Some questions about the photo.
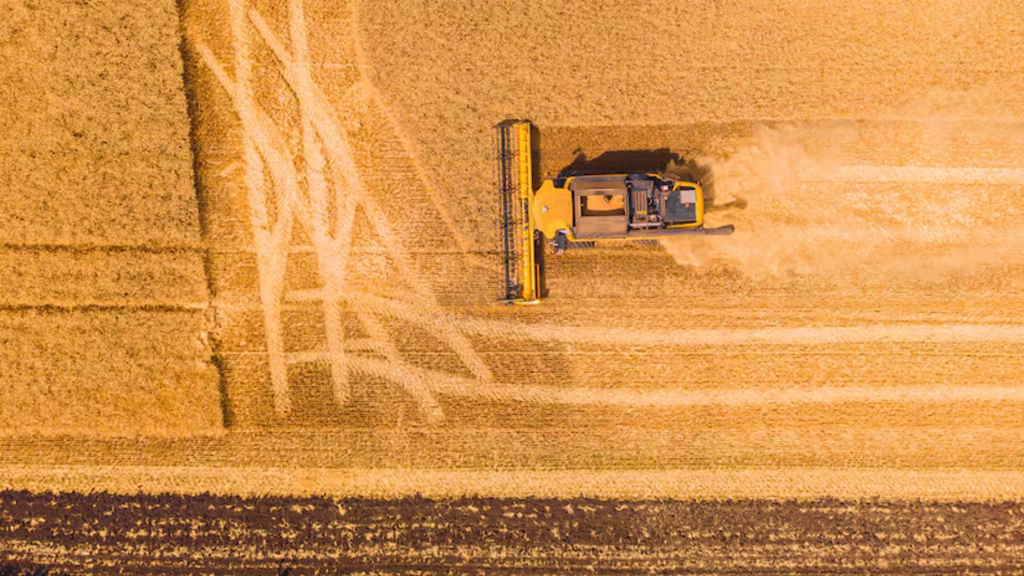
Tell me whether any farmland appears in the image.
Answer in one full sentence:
Yes, the picture does contain farmland.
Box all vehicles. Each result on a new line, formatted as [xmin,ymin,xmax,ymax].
[492,119,736,306]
